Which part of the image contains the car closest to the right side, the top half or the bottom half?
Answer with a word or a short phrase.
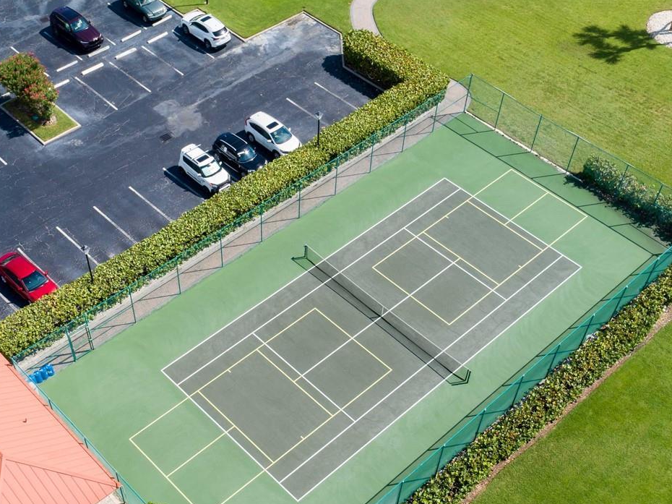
top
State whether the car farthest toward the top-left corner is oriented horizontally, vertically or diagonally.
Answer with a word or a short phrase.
diagonally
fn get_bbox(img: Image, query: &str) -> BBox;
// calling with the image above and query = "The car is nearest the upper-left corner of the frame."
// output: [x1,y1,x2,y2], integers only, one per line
[47,7,98,52]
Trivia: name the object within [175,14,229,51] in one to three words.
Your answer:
car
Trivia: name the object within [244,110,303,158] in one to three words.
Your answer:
car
